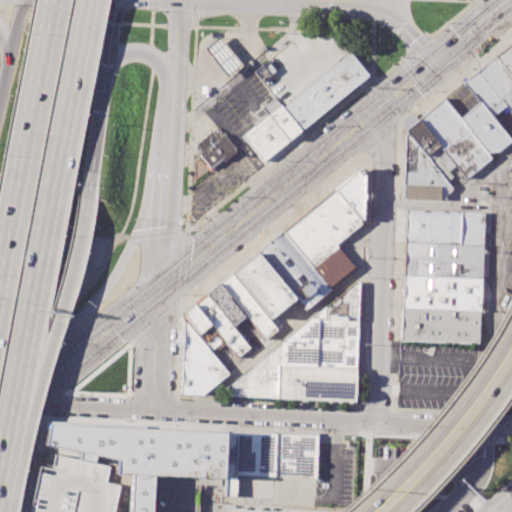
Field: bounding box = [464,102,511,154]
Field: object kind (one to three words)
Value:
building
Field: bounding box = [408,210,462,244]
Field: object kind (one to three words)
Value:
building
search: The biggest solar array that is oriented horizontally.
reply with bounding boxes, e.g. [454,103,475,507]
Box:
[306,384,355,398]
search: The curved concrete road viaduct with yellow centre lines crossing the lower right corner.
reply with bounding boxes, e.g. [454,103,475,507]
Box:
[350,310,512,512]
